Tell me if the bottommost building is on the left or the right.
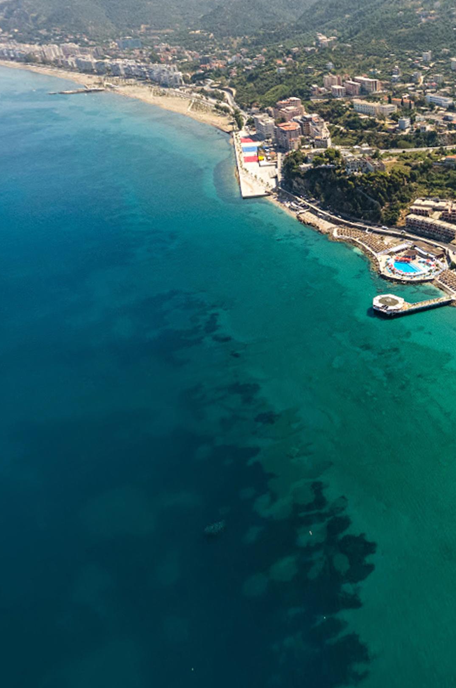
right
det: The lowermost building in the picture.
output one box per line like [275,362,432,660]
[372,294,405,316]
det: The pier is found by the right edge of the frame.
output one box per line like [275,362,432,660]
[403,294,456,313]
